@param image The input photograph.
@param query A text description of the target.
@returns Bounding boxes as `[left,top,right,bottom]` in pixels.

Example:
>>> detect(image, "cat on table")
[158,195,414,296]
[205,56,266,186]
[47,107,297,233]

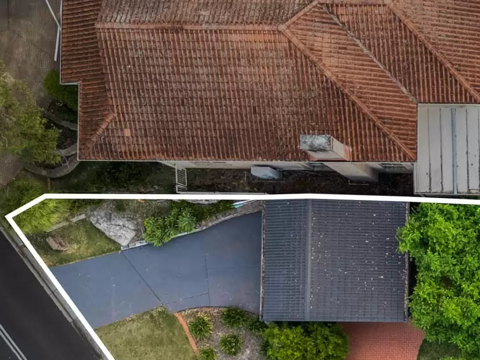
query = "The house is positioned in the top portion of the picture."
[60,0,480,189]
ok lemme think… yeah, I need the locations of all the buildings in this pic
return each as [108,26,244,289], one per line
[60,0,480,189]
[258,196,411,322]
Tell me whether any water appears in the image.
No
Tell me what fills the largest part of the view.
buildings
